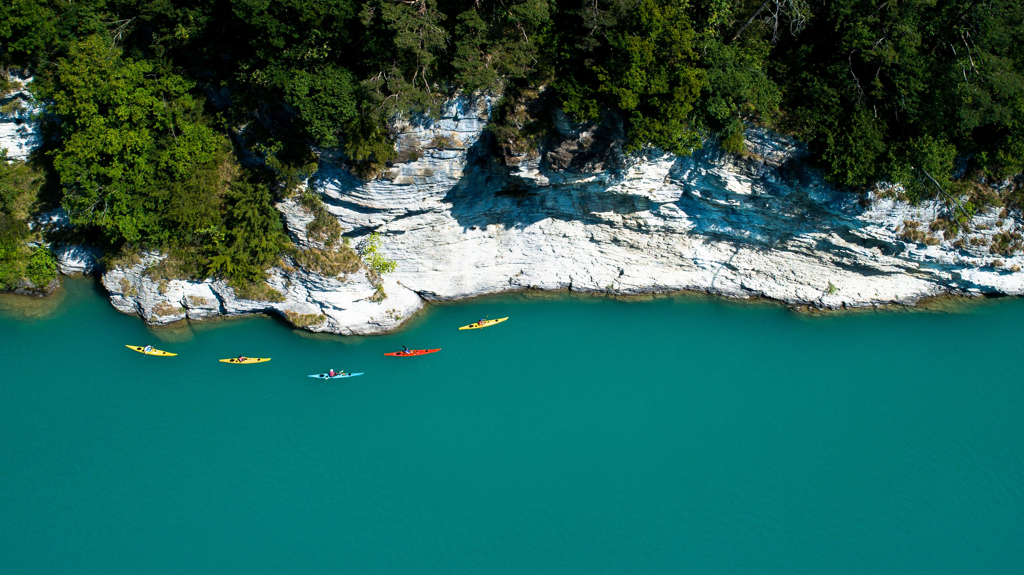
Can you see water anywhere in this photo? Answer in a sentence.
Yes, water can be seen from above here.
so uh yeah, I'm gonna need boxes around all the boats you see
[308,372,364,379]
[126,346,178,356]
[459,317,509,330]
[220,358,271,364]
[384,349,441,357]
